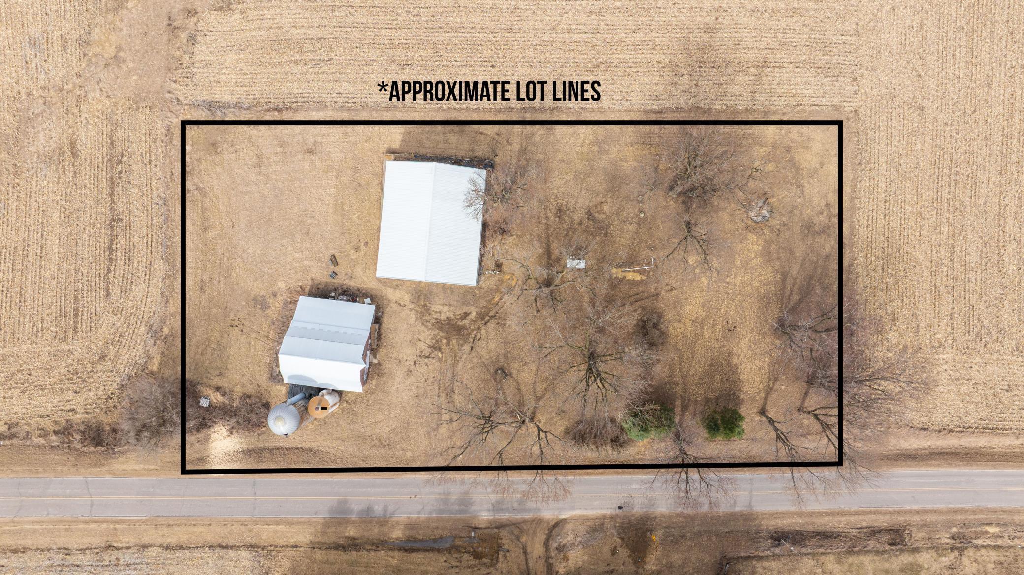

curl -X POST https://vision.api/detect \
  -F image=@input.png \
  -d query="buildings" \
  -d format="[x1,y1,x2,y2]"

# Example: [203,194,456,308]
[376,161,487,286]
[278,296,375,392]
